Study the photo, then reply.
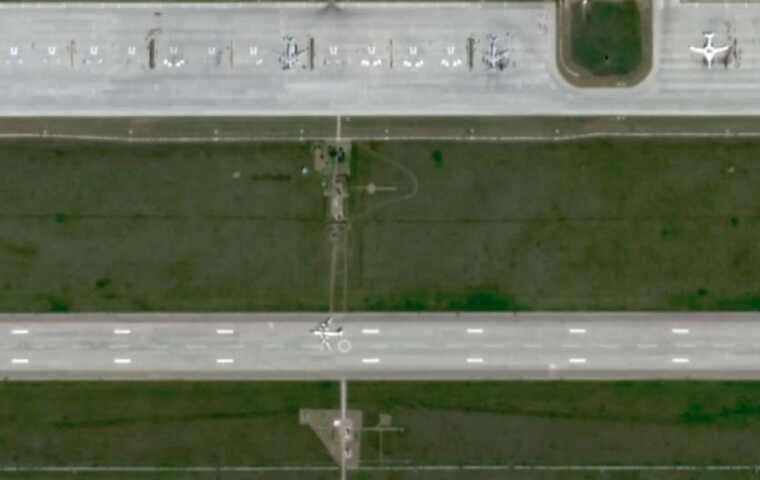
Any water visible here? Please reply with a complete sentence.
No, water can't be seen anywhere here.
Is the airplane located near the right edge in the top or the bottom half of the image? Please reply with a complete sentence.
It is in the top half that the airplane located near the right edge appears.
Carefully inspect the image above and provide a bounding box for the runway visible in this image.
[0,312,760,381]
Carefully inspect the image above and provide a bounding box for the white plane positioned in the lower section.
[312,317,344,350]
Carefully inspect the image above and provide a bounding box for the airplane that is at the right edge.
[691,33,728,69]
